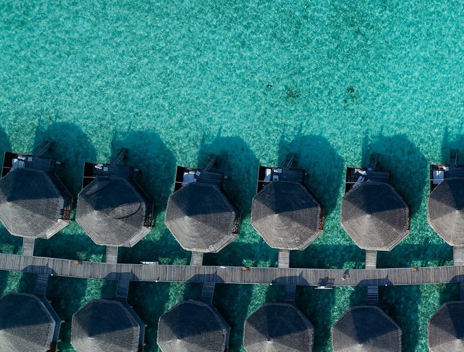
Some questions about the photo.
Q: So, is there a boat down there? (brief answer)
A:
No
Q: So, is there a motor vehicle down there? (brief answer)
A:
No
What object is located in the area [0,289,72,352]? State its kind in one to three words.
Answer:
house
